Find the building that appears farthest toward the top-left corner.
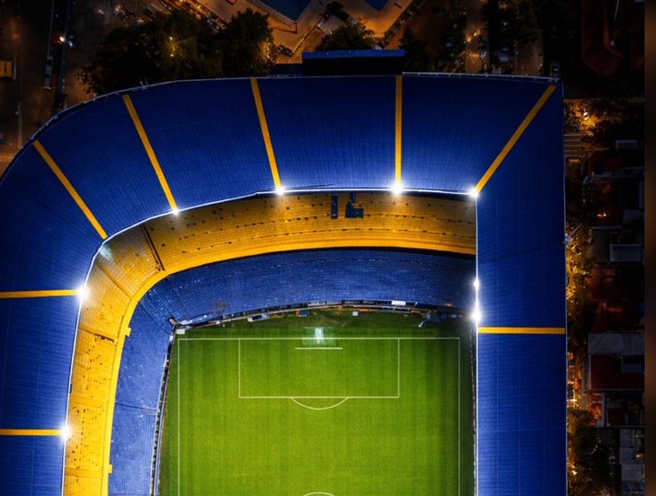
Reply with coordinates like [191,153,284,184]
[243,0,332,41]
